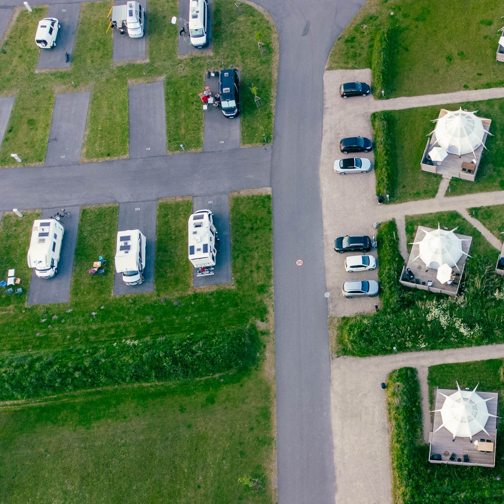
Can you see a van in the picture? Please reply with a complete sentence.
Yes, the photo shows a van.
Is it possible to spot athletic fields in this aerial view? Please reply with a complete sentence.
Yes, there's an athletic field here.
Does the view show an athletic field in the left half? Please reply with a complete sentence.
Yes, an athletic field is visible in the left half.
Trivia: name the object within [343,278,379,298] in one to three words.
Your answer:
car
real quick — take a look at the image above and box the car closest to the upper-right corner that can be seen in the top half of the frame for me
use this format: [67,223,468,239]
[339,82,370,100]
